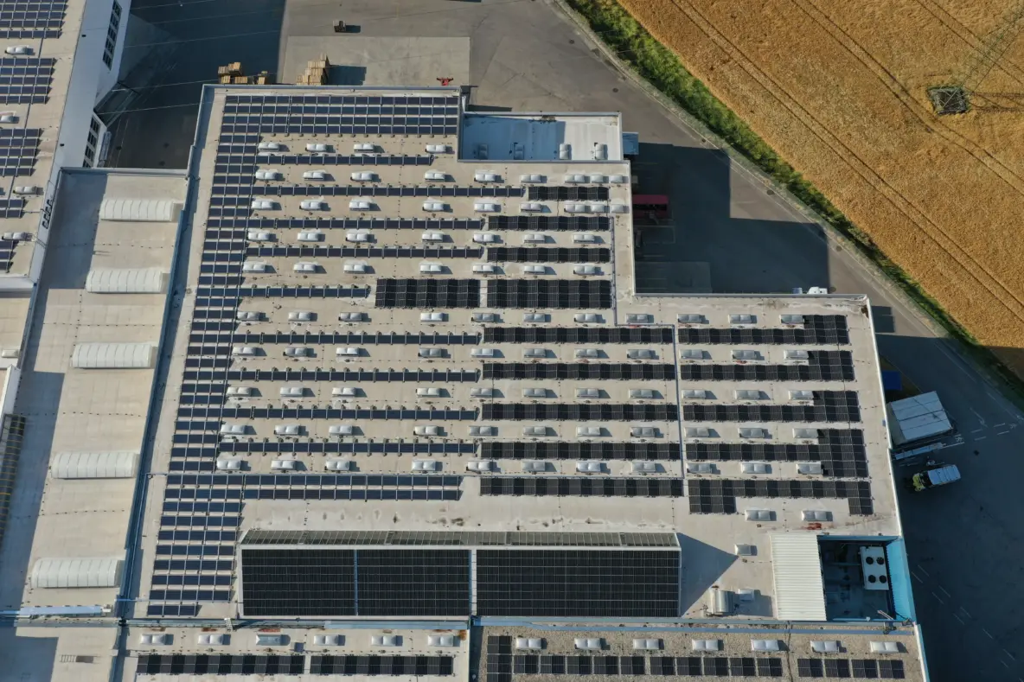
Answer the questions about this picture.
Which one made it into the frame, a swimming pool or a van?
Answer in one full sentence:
Of the two, only a van appears.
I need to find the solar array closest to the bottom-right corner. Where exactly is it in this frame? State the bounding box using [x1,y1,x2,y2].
[477,552,679,615]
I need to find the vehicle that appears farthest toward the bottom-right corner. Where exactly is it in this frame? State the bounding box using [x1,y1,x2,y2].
[904,465,964,495]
